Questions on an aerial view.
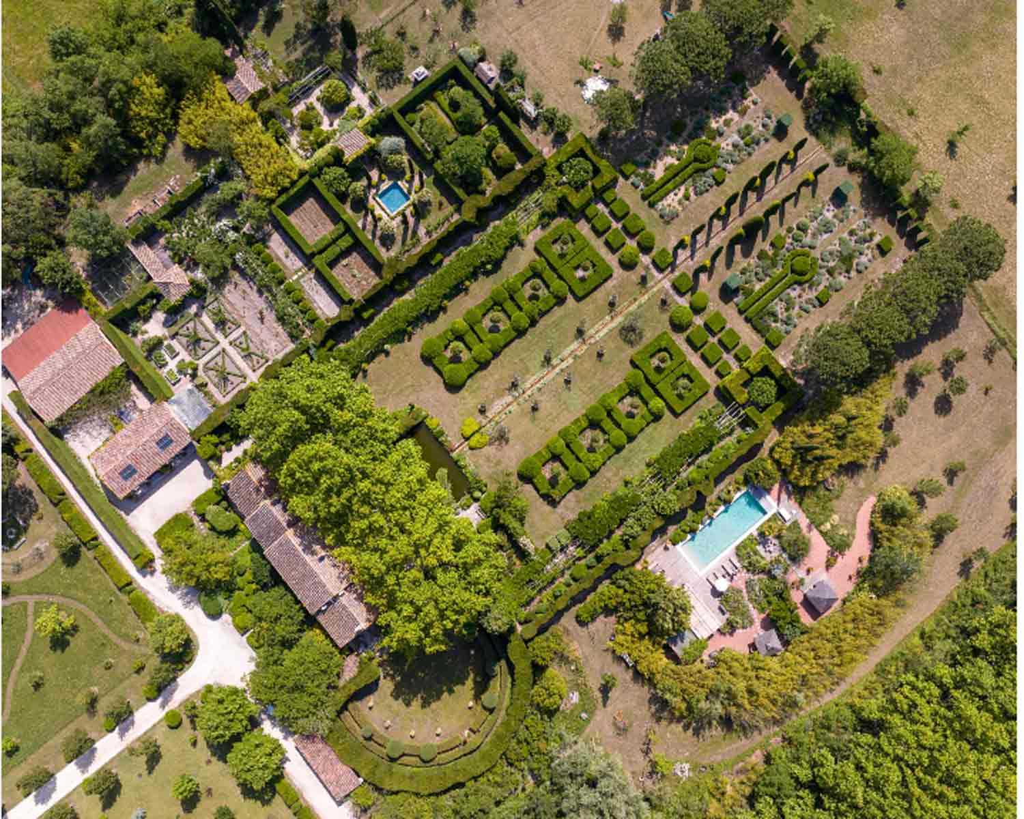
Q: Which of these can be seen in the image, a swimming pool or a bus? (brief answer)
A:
swimming pool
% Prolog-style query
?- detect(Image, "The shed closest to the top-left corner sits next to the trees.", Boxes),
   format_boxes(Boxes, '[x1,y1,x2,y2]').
[228,61,267,108]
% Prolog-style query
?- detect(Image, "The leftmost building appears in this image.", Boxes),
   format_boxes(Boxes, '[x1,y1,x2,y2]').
[1,300,125,421]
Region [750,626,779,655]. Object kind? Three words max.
building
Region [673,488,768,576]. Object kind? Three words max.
swimming pool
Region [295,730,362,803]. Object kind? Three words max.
shed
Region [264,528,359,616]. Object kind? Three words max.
house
